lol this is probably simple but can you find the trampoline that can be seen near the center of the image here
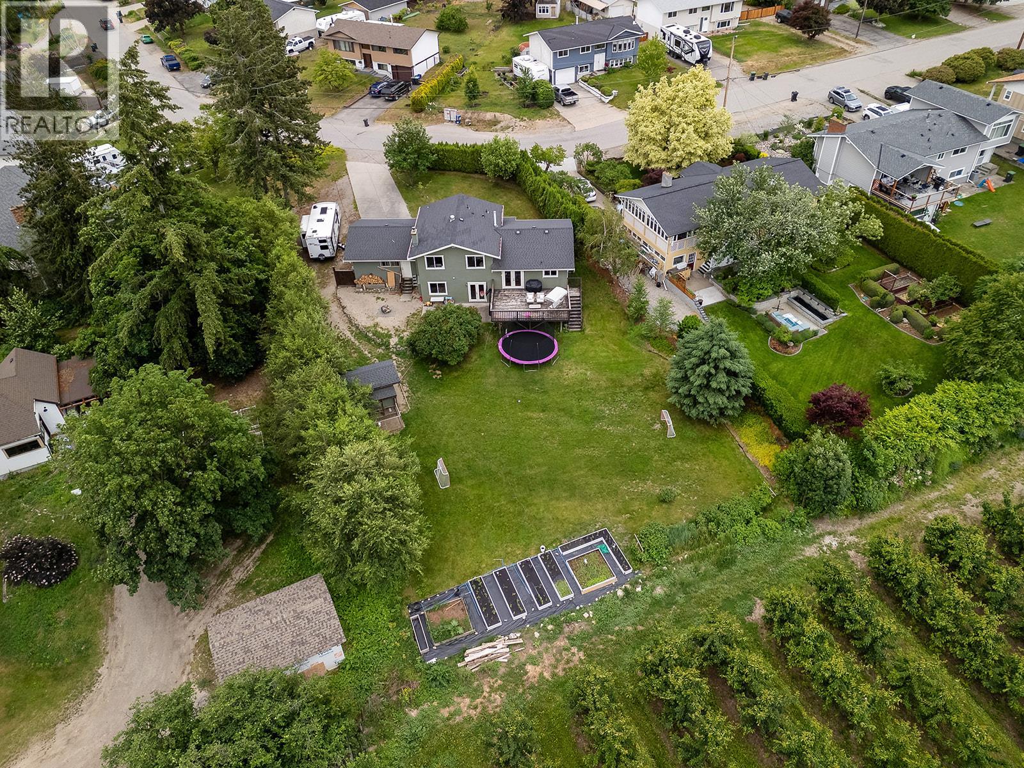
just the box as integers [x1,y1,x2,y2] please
[499,328,558,371]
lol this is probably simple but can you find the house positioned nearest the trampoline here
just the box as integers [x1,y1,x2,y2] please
[343,190,575,302]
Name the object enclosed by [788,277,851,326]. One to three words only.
pond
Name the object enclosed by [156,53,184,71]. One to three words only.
vehicle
